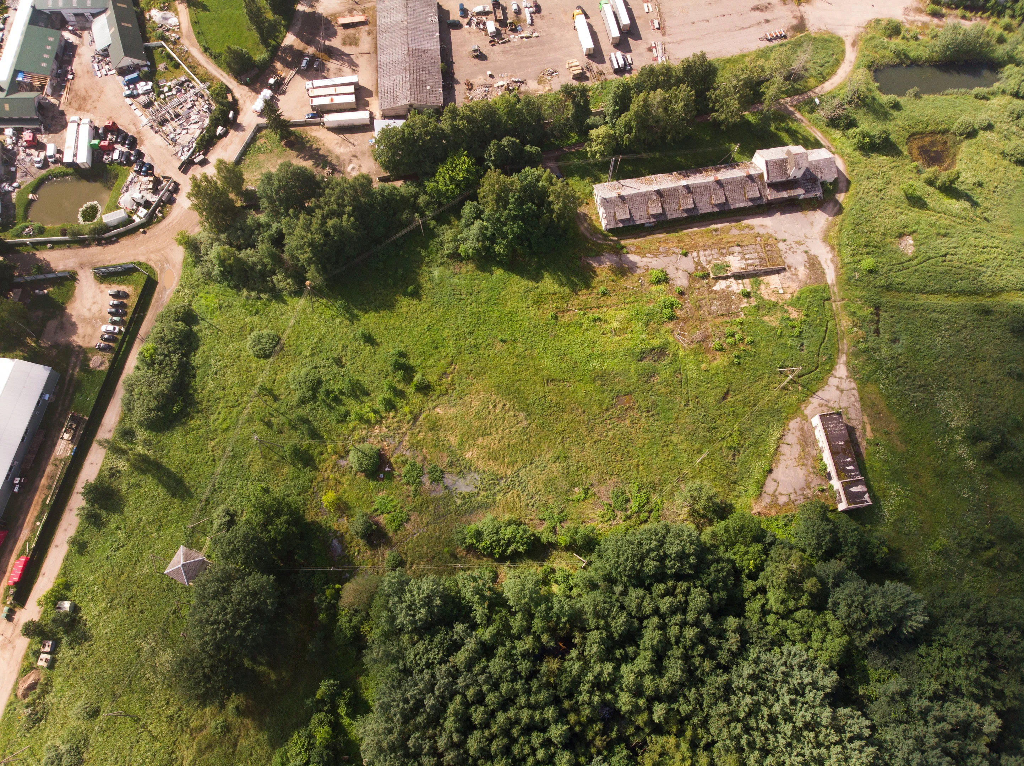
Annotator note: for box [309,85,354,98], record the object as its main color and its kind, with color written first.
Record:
white vehicle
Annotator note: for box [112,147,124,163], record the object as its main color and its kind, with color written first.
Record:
white vehicle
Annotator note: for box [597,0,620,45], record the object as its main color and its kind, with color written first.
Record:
white truck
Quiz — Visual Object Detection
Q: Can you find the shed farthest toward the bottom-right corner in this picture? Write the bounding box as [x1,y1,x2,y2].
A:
[812,411,873,510]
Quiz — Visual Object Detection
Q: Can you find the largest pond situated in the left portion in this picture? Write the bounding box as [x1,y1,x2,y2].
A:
[29,176,112,227]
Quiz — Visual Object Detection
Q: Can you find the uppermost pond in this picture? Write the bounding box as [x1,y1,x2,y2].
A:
[872,61,997,99]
